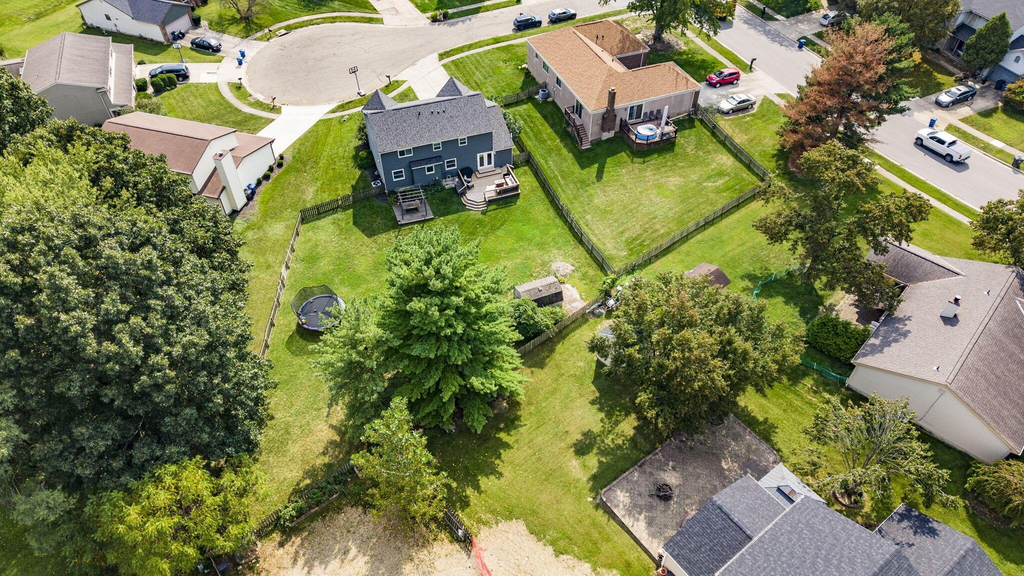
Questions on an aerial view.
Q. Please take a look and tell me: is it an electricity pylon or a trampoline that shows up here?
trampoline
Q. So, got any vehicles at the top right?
Yes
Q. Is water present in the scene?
No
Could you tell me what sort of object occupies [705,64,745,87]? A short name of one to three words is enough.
car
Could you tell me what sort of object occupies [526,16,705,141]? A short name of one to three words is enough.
house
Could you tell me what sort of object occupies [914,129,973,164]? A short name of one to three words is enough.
truck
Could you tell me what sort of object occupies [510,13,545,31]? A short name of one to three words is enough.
car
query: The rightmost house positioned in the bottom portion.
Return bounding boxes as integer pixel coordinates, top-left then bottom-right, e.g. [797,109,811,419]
[846,237,1024,470]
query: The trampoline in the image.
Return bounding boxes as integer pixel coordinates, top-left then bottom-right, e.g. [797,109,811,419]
[294,279,347,331]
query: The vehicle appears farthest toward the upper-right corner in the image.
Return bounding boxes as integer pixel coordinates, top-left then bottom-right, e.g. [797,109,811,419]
[937,84,979,105]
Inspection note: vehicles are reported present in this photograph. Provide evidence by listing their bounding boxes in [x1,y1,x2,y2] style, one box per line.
[821,9,847,26]
[937,84,979,105]
[510,13,545,31]
[914,129,973,164]
[545,7,580,25]
[187,35,222,52]
[717,92,760,113]
[147,61,191,81]
[705,64,745,87]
